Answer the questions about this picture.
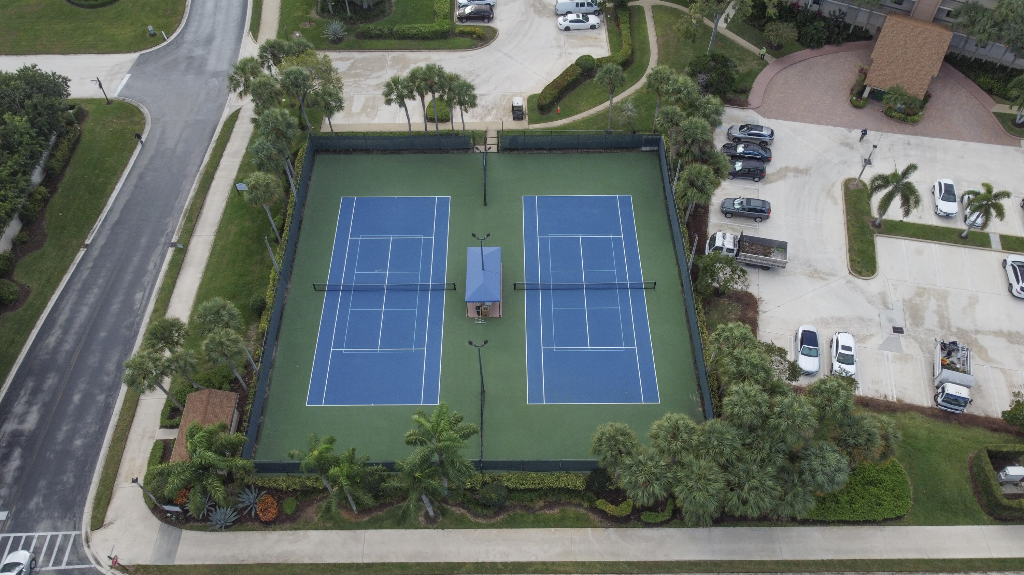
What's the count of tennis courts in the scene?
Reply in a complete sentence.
In total, there are 2 tennis courts in the scene.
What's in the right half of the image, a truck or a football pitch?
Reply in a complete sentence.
What appears in the right half of the image is a truck.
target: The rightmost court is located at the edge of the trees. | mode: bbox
[483,151,707,476]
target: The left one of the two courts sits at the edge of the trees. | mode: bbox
[251,152,487,477]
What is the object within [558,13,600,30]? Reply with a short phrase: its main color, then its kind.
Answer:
white car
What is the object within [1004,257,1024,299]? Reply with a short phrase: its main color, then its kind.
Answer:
white car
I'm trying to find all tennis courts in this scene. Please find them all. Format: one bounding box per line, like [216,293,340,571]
[251,152,487,477]
[483,151,707,476]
